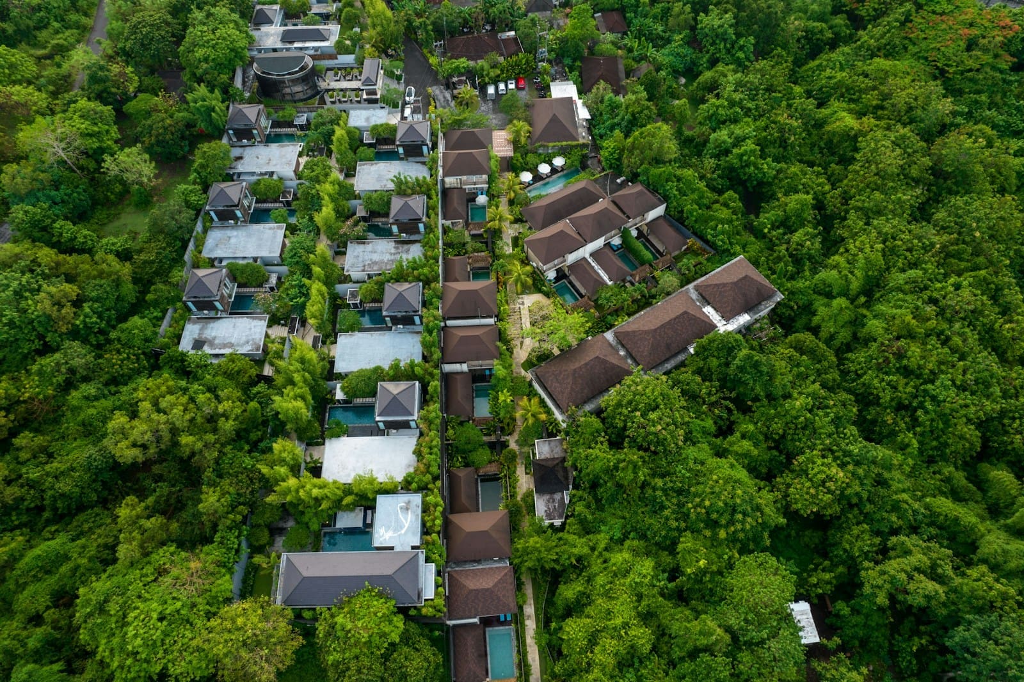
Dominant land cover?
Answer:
trees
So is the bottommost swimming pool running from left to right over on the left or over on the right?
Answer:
left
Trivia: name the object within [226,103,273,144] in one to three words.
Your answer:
building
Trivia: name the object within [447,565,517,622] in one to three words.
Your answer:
house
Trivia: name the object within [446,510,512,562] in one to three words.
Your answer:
house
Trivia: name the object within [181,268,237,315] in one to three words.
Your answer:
building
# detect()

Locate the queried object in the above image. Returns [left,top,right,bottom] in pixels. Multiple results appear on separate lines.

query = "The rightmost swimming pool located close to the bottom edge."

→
[485,627,516,681]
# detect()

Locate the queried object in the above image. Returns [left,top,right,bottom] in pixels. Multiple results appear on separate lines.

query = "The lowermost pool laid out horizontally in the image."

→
[320,529,376,551]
